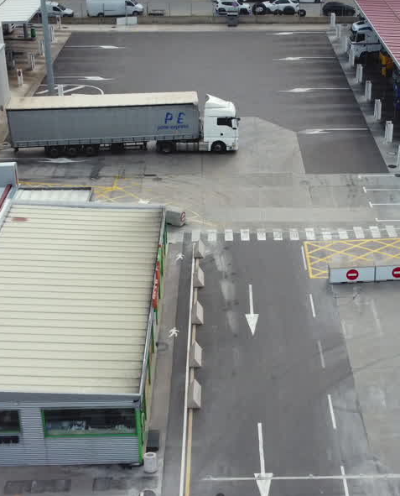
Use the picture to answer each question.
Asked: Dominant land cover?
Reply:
paved ground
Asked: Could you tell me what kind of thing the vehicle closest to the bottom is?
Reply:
truck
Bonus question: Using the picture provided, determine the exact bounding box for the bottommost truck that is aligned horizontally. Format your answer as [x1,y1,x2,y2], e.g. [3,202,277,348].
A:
[9,94,239,158]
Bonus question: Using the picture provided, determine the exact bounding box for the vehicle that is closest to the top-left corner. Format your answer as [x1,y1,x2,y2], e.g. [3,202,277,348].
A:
[44,0,81,15]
